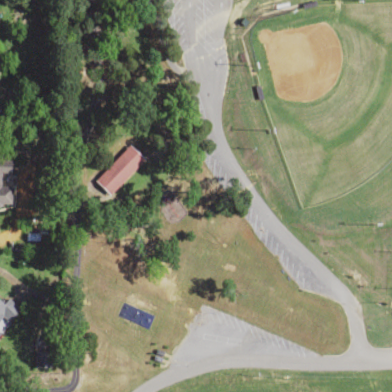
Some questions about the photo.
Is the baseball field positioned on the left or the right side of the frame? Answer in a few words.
right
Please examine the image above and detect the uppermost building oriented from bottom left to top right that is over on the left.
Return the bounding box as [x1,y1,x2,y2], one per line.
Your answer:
[96,143,145,196]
